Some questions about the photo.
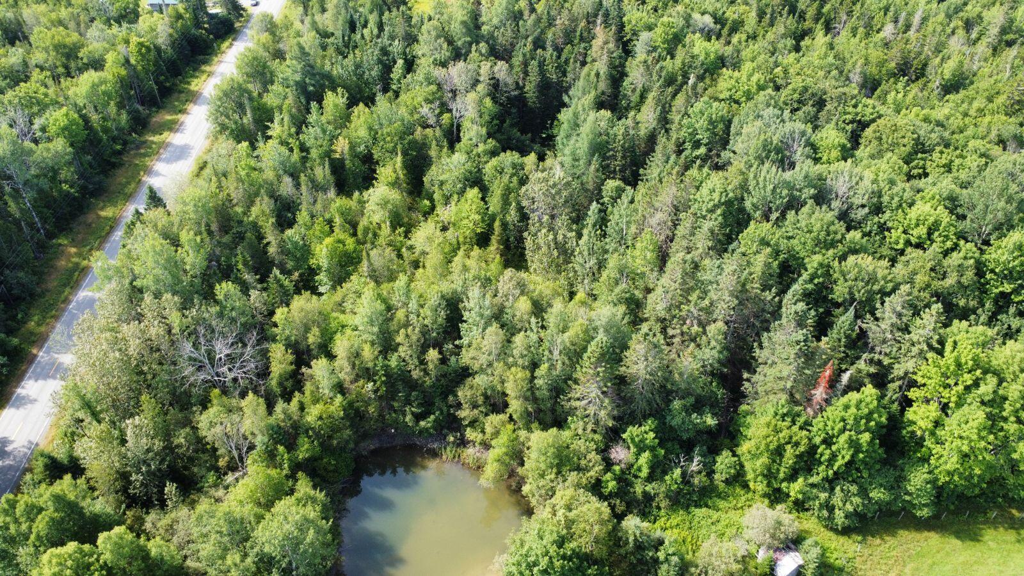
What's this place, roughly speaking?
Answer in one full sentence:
What you see here is a forest.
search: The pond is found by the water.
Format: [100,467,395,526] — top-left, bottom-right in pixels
[337,448,528,576]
